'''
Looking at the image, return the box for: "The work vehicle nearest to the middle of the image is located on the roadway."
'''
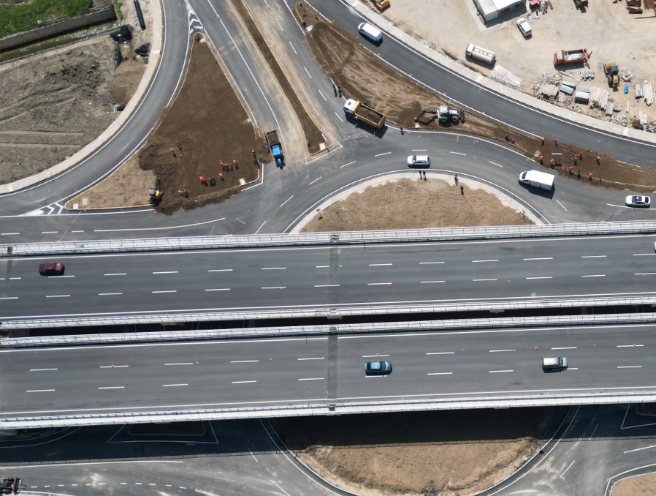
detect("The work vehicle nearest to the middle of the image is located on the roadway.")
[270,146,286,168]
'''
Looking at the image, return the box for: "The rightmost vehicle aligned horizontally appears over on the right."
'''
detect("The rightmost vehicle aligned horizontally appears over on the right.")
[625,194,650,207]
